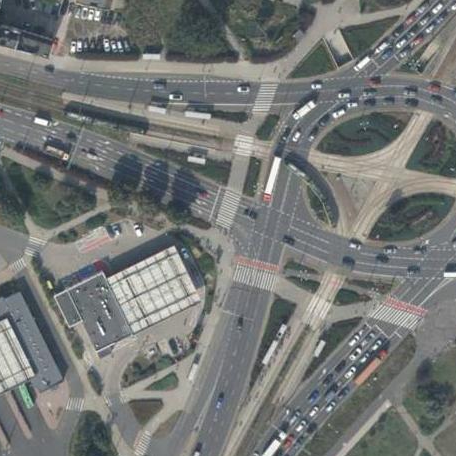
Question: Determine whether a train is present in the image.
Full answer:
Yes, there's a train down there.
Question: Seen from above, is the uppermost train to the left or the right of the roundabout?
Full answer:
Looking at the picture, you'll find the uppermost train to the left of the roundabout.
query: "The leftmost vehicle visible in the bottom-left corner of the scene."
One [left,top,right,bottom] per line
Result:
[17,382,35,408]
